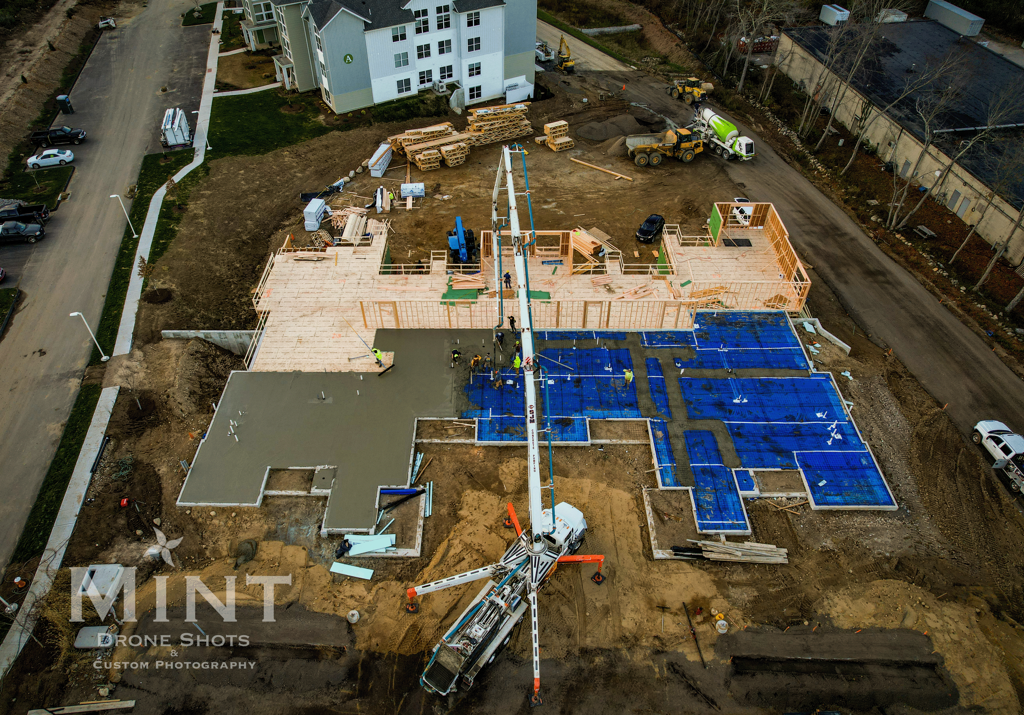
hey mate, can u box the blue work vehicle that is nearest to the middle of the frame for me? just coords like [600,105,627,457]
[446,207,477,272]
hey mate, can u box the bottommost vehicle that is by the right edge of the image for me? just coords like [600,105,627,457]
[974,421,1024,501]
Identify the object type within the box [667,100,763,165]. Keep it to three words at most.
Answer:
truck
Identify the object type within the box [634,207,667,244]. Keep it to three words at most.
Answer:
car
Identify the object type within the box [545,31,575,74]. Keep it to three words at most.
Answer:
work vehicle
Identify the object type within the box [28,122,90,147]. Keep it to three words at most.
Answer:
truck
